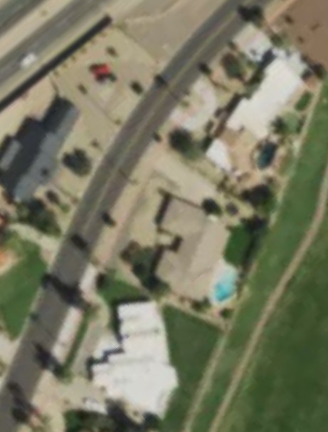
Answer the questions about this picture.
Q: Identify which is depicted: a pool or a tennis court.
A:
pool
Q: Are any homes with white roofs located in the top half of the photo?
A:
Yes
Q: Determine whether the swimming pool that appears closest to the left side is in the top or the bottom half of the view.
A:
bottom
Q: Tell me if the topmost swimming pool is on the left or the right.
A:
right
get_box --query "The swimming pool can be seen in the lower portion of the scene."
[211,262,237,302]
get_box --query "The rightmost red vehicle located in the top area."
[93,63,110,76]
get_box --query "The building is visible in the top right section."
[207,47,307,170]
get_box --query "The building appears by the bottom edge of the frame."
[91,301,178,419]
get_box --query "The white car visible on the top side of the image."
[21,53,37,68]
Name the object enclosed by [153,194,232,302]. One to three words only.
house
